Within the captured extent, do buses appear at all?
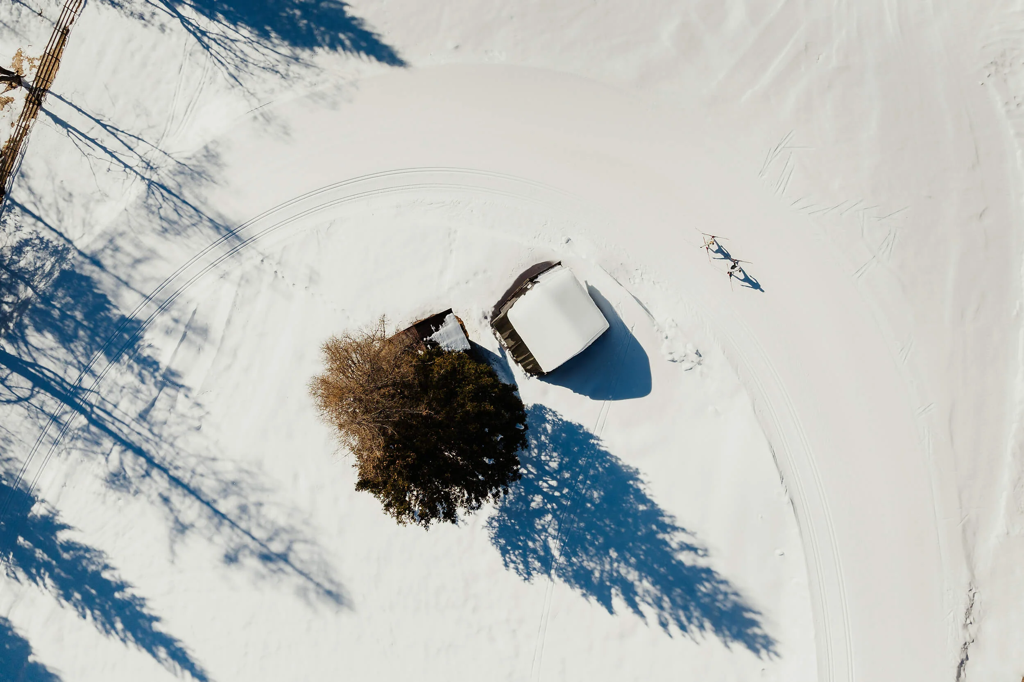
No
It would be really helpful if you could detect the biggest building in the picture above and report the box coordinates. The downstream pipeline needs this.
[493,261,609,373]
